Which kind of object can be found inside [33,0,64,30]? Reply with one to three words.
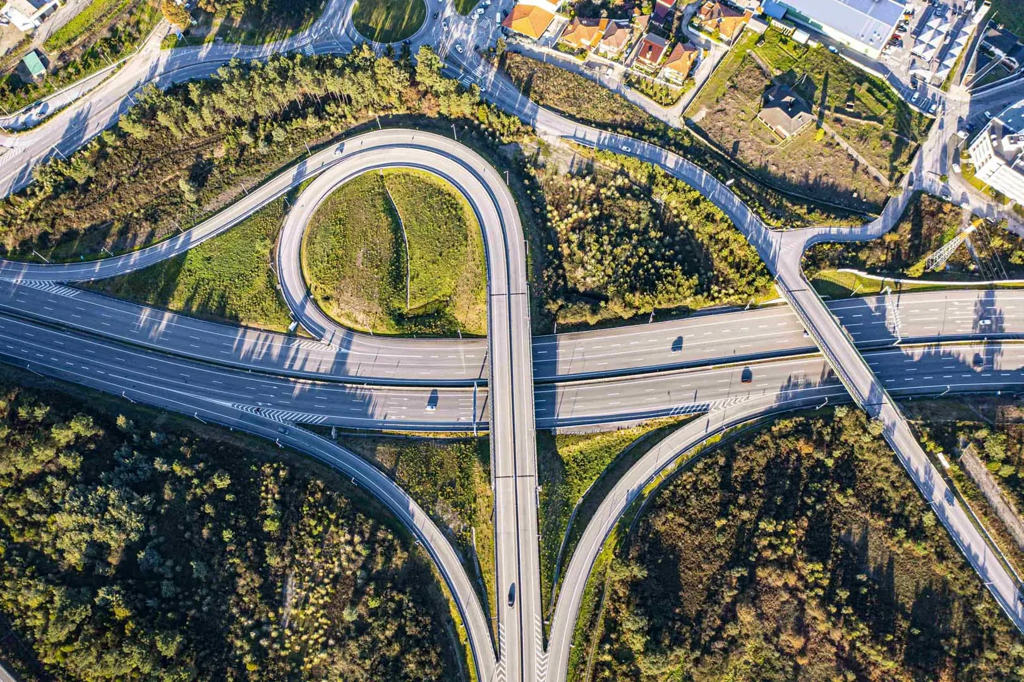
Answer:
building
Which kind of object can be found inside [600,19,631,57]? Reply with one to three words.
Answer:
house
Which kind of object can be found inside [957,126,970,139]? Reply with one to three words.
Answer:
vehicle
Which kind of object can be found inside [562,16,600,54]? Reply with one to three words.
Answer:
house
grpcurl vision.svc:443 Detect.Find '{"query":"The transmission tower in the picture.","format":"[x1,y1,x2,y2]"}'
[915,216,980,275]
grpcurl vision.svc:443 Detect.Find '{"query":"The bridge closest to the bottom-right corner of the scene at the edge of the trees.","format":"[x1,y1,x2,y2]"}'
[777,281,904,418]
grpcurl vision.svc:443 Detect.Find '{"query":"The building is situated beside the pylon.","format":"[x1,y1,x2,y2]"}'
[969,99,1024,211]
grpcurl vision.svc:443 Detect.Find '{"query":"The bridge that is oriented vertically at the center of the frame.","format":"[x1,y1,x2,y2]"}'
[488,292,538,477]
